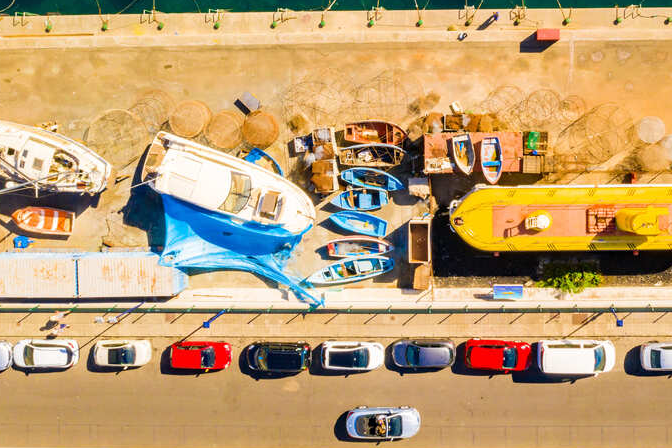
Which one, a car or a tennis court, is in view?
car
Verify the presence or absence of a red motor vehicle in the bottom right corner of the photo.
Yes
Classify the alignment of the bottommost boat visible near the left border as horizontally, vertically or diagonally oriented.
horizontally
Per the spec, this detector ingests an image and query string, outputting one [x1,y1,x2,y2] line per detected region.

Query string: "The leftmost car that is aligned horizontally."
[13,339,81,373]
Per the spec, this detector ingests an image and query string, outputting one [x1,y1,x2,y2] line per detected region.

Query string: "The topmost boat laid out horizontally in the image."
[344,119,408,146]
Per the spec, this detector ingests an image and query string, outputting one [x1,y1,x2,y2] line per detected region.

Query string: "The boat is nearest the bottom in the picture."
[305,255,396,286]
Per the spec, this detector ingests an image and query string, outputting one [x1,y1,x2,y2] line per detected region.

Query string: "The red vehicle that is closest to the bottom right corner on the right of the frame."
[465,338,530,372]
